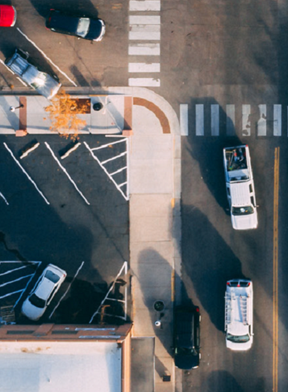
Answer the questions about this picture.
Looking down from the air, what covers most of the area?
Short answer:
paved ground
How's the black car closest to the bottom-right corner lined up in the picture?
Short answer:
from top to bottom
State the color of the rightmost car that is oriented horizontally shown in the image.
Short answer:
black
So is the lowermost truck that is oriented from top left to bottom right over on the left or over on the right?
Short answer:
left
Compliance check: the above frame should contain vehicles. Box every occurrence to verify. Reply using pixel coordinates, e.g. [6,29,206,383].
[22,263,67,323]
[173,304,201,370]
[44,8,105,43]
[223,278,254,352]
[222,144,259,231]
[0,2,18,27]
[1,46,63,101]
